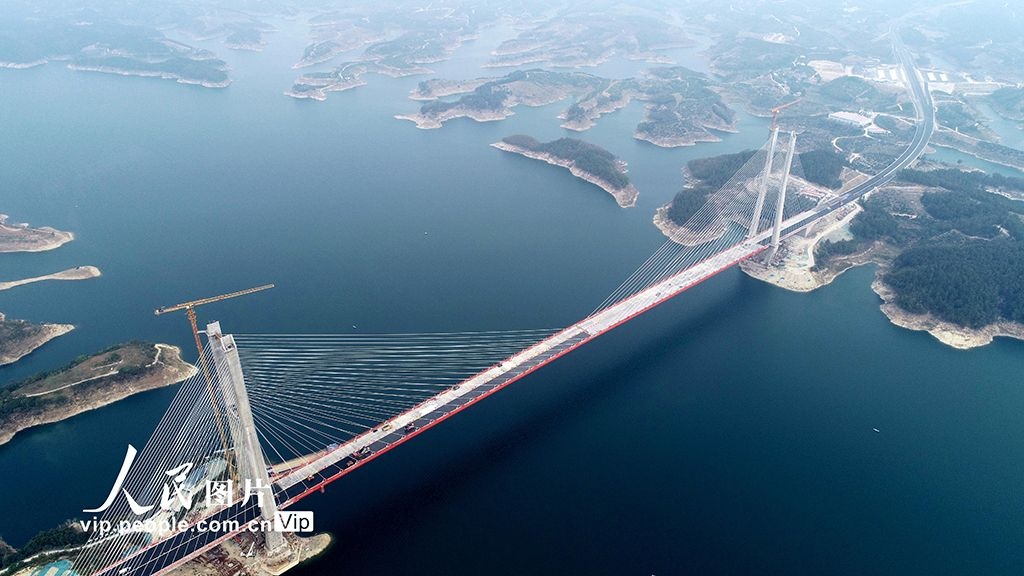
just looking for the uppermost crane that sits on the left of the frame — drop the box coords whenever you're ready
[154,285,274,528]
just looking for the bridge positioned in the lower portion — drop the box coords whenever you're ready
[78,128,820,576]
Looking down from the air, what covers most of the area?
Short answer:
water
